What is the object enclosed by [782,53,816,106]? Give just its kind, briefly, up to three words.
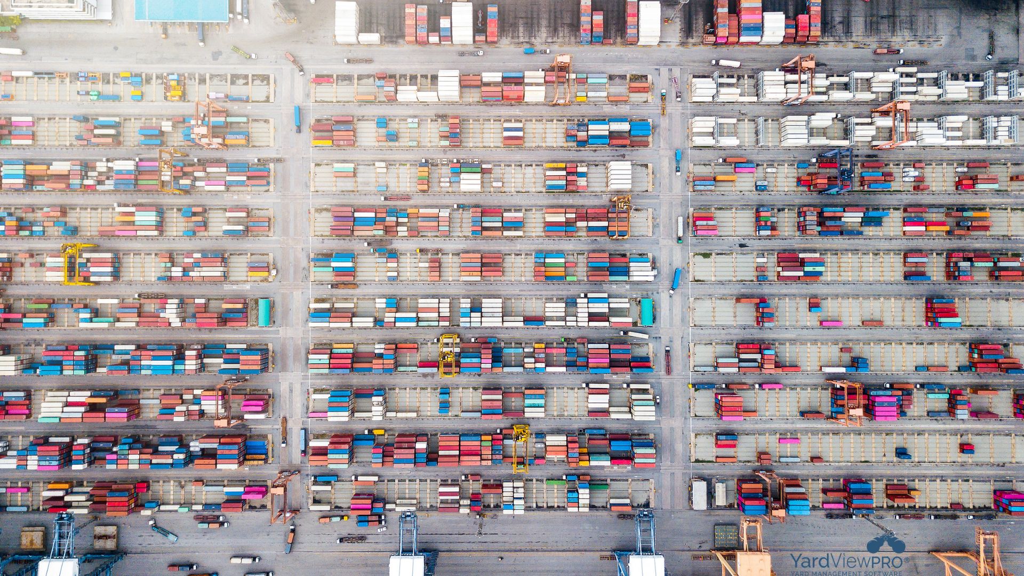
container crane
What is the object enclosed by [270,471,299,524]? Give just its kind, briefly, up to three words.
container crane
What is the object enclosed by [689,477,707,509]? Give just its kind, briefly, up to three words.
building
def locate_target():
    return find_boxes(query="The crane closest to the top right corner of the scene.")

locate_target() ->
[872,100,912,151]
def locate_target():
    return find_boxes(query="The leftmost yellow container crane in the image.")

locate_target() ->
[63,241,101,287]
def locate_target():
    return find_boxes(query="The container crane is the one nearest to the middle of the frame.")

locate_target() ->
[439,334,461,380]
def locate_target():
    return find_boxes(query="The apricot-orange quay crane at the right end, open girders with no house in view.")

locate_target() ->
[930,529,1011,576]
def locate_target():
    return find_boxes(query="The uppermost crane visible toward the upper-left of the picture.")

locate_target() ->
[193,100,228,151]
